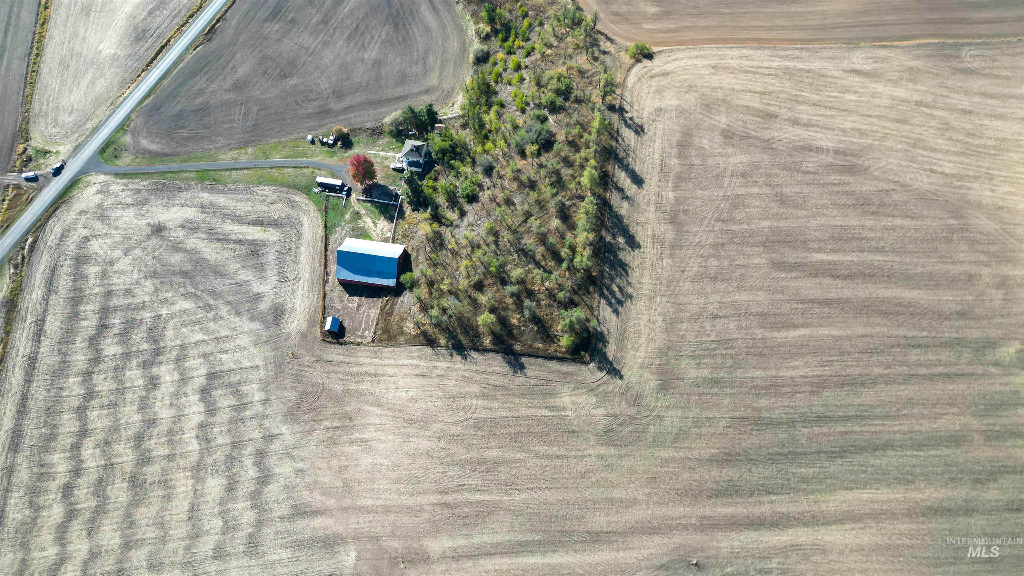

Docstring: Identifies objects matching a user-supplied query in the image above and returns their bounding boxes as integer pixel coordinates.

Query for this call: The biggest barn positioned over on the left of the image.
[336,237,405,289]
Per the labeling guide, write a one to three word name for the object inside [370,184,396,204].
building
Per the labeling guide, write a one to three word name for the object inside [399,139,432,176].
house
